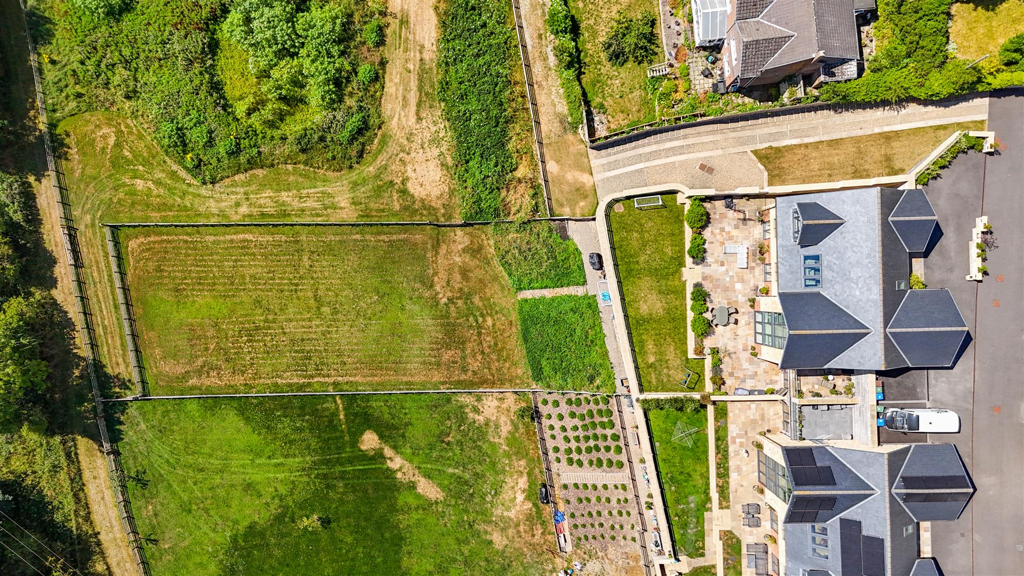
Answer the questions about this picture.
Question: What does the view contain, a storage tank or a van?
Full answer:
Visible in the photo is a van.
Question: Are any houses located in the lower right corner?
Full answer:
Yes, a house shows up in the lower right corner.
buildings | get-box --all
[757,433,975,576]
[755,187,972,373]
[683,0,882,94]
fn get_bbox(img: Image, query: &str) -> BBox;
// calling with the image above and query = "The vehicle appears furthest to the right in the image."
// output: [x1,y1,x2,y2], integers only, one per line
[883,406,961,435]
